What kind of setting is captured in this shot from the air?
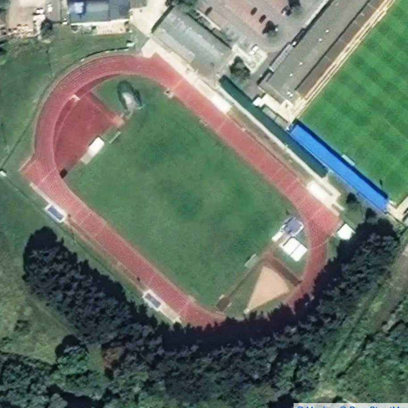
sports ground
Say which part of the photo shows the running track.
center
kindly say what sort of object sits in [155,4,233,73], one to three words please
building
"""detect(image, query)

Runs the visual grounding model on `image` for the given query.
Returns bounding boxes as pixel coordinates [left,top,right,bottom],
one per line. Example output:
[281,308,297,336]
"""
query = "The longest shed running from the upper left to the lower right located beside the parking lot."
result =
[220,75,327,178]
